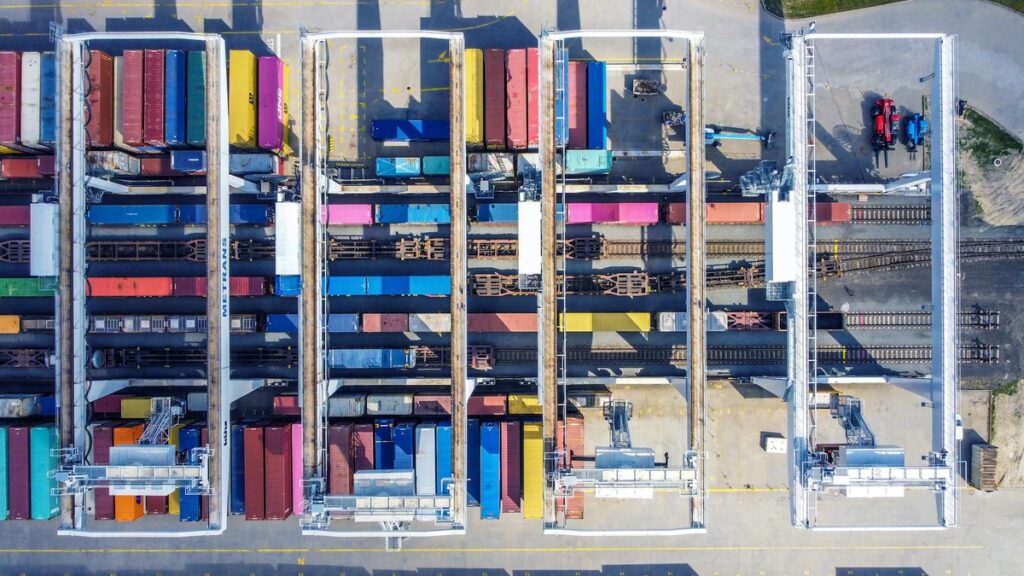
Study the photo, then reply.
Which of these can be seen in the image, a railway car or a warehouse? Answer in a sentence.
It is a railway car that can be seen here.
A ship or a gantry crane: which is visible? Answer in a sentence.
Visible in the photo is a gantry crane.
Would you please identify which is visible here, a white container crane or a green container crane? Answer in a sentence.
There is a white container crane in the scene.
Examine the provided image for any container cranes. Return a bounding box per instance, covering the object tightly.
[276,25,512,542]
[512,26,722,535]
[33,20,294,535]
[719,20,969,532]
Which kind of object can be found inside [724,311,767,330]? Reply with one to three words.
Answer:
rail car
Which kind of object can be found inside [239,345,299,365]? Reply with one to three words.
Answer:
rail car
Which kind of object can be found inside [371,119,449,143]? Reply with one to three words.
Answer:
trailer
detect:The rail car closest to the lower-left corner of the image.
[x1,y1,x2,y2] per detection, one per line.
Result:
[0,345,54,365]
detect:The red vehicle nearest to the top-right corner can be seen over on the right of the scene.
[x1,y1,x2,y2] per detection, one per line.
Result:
[871,99,901,158]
